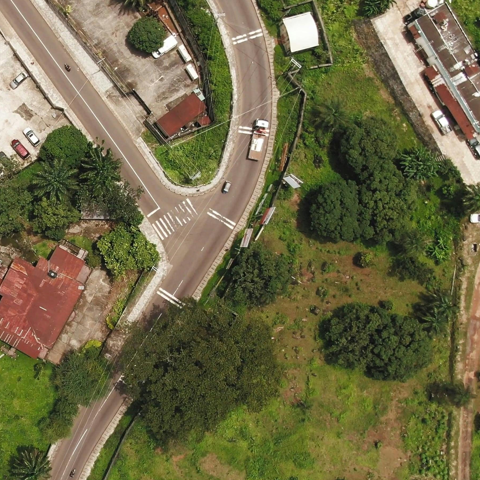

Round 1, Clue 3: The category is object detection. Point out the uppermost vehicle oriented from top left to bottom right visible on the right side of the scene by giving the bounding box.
[430,110,454,135]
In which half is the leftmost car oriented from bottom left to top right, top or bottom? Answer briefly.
top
